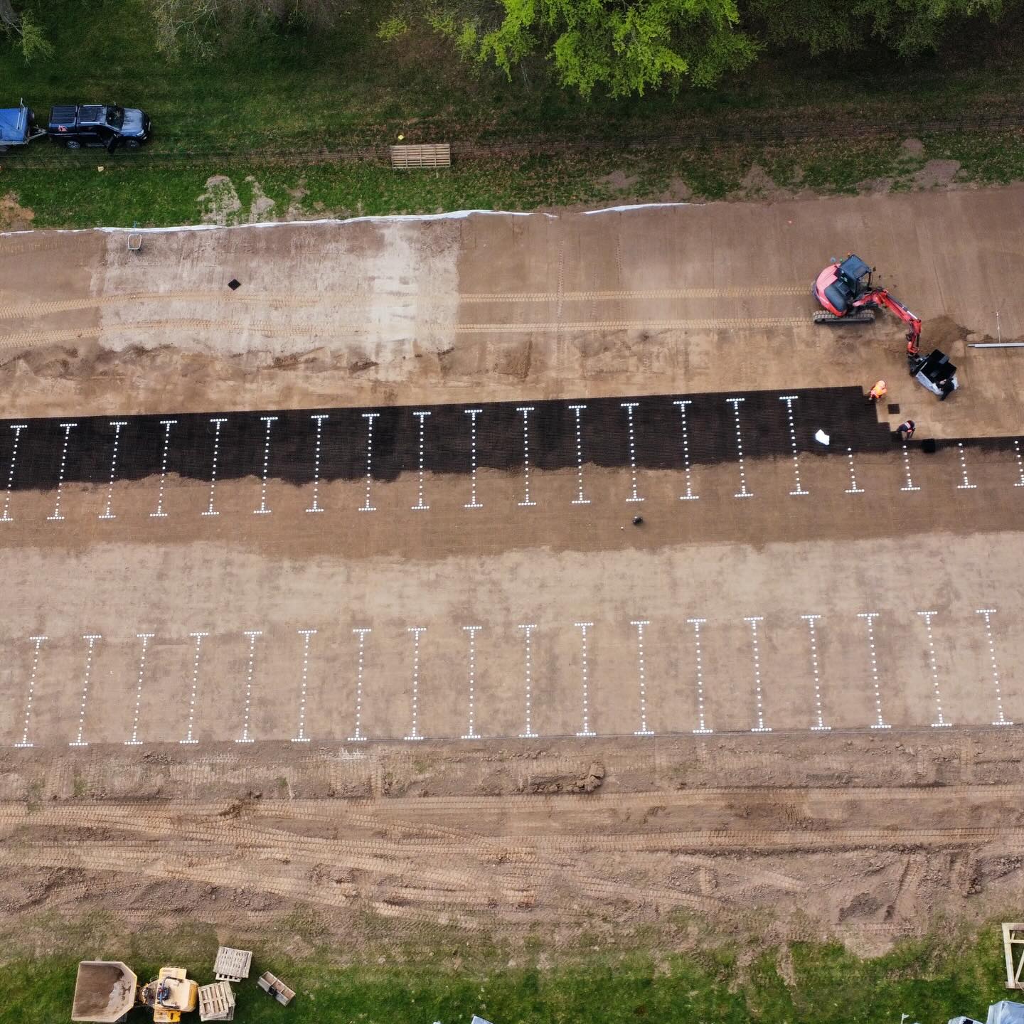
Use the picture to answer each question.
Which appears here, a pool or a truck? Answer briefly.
truck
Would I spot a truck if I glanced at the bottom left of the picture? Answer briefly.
Yes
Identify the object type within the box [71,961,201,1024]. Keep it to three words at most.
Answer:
truck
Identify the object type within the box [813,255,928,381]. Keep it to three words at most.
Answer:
work vehicle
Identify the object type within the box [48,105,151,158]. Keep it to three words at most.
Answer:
truck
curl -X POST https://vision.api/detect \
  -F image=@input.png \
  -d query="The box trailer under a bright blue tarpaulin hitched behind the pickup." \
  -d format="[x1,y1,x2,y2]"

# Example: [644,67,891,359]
[0,102,50,148]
